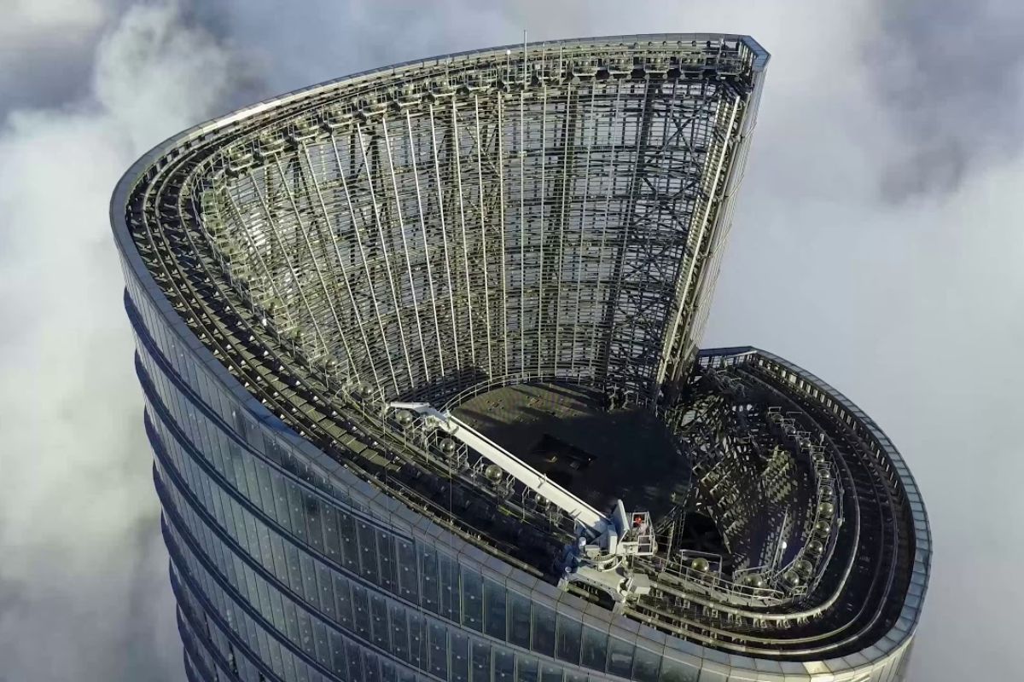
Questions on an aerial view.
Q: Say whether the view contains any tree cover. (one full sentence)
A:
No, the picture contains no tree cover.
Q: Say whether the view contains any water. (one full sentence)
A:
Yes, water can be seen from above here.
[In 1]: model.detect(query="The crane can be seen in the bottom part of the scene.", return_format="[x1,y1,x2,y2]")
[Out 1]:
[384,400,657,678]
